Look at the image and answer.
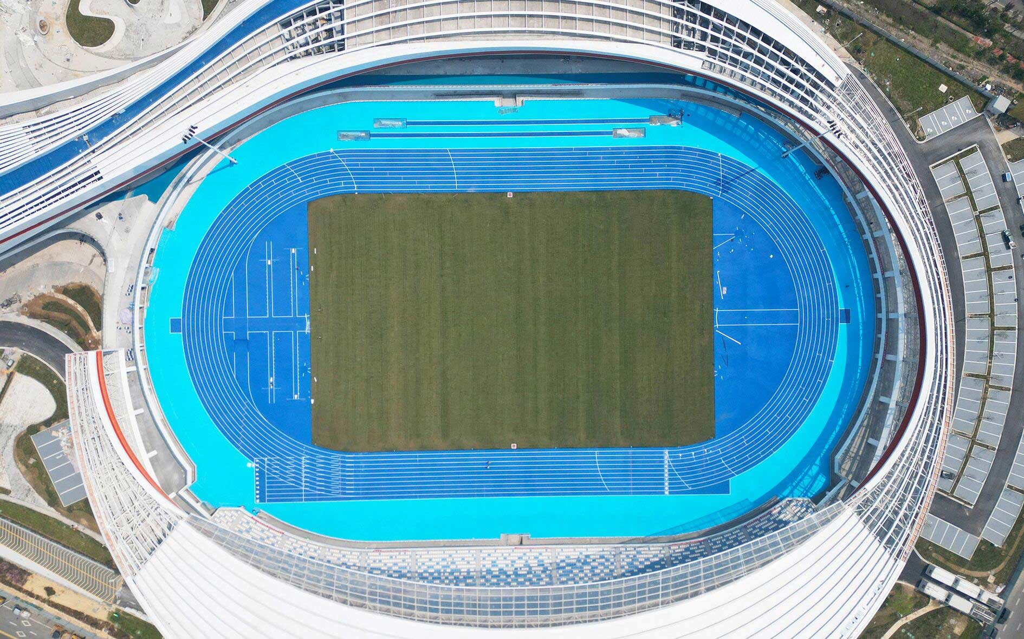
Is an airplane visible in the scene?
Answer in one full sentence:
No, there is no airplane in the image.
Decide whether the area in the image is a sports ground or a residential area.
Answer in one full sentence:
It's a sports ground.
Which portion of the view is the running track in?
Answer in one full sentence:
Look in the center portion of the view to spot the running track.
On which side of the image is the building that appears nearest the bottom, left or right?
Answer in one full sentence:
The building that appears nearest the bottom appears in the right half of the scene.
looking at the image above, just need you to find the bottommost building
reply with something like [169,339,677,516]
[986,95,1011,116]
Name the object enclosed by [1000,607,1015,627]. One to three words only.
car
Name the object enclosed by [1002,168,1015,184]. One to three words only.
vehicle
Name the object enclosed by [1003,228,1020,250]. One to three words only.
vehicle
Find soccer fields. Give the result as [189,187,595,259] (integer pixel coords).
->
[306,188,716,453]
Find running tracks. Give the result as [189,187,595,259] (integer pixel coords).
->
[170,145,851,504]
